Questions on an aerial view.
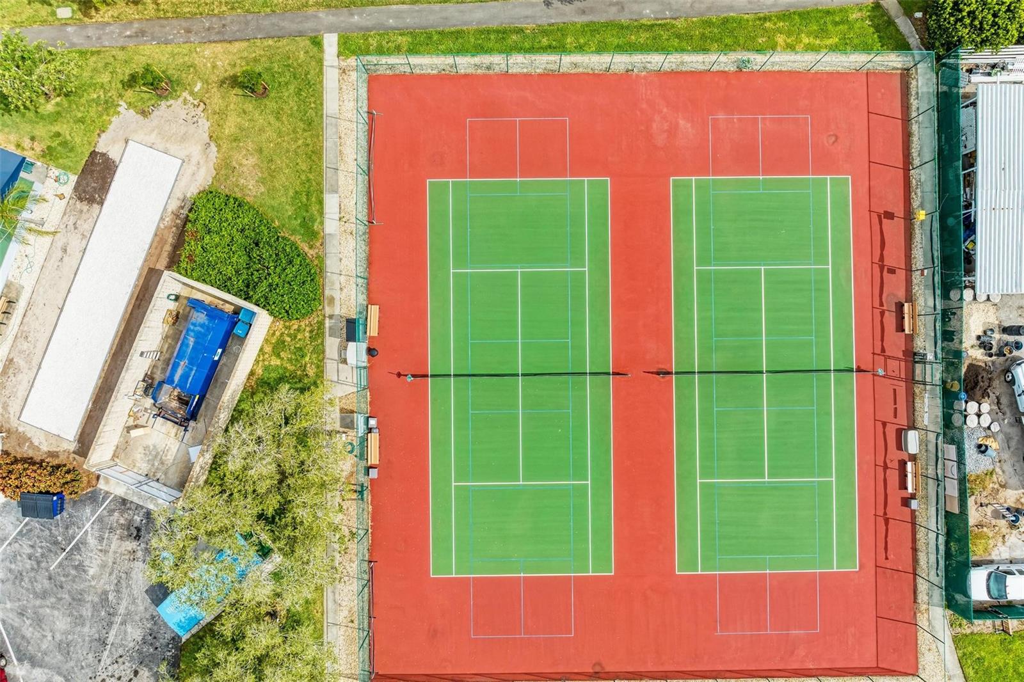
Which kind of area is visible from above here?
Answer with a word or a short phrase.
sports ground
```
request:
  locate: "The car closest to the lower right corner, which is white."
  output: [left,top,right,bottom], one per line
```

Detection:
[973,562,1024,606]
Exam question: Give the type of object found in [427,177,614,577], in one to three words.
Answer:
tennis court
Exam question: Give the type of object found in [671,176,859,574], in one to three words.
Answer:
tennis court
